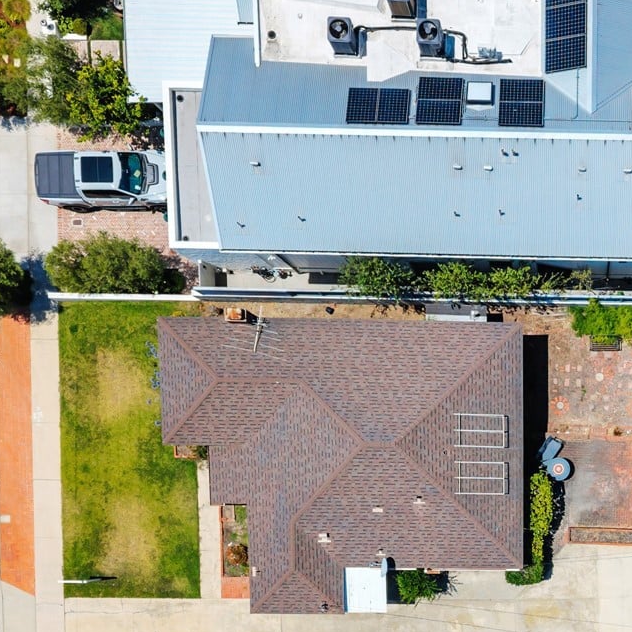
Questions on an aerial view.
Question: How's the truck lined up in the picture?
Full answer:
From this overhead view, the truck appears to run from left to right.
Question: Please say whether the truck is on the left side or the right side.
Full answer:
The truck appears in the left half of the scene.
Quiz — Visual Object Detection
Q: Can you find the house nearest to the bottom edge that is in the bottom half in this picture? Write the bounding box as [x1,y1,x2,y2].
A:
[155,305,526,616]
